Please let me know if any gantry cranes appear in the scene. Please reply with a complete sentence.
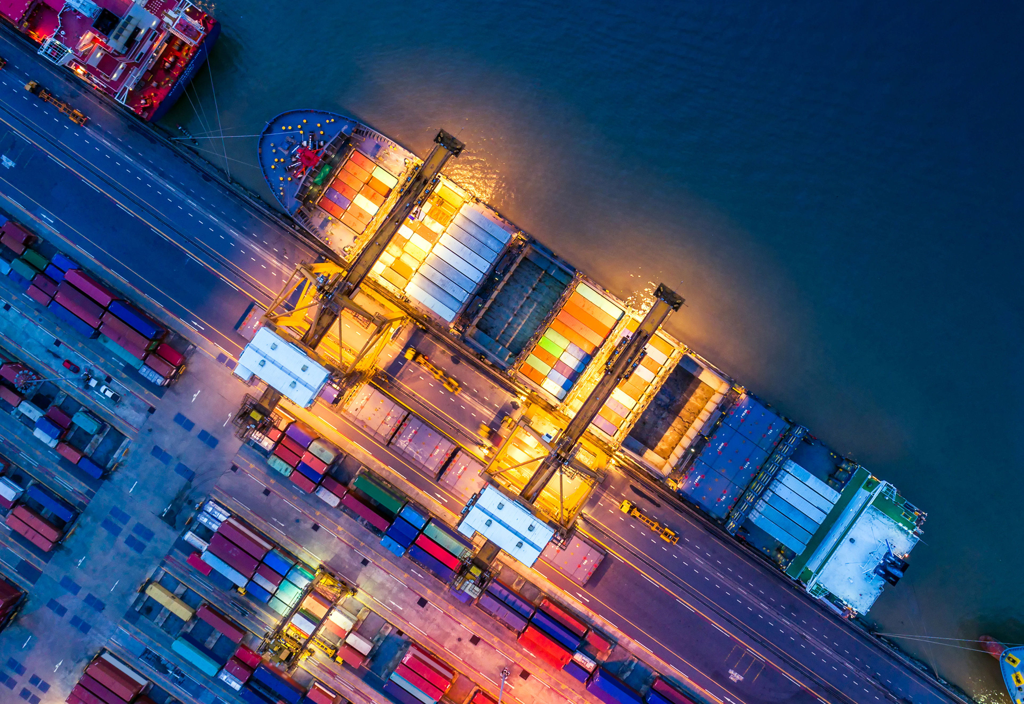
Yes, looking at the shot, I can spot a gantry crane.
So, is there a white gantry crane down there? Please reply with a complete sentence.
No, no white gantry crane is visible in the view.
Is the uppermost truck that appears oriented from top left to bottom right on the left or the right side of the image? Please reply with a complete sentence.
The uppermost truck that appears oriented from top left to bottom right is on the left side of the image.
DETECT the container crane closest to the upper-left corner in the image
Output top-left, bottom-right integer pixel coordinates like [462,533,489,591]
[224,123,472,448]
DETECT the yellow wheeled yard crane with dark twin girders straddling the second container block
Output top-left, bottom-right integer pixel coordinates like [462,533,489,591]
[241,566,357,687]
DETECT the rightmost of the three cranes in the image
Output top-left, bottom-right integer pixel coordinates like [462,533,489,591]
[445,280,693,604]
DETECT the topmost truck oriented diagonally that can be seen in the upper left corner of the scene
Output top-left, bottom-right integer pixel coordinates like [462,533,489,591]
[20,82,86,131]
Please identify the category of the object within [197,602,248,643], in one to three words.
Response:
shipping container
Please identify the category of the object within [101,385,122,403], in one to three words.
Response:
vehicle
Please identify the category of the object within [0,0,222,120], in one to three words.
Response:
ship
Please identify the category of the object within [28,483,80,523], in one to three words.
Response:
shipping container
